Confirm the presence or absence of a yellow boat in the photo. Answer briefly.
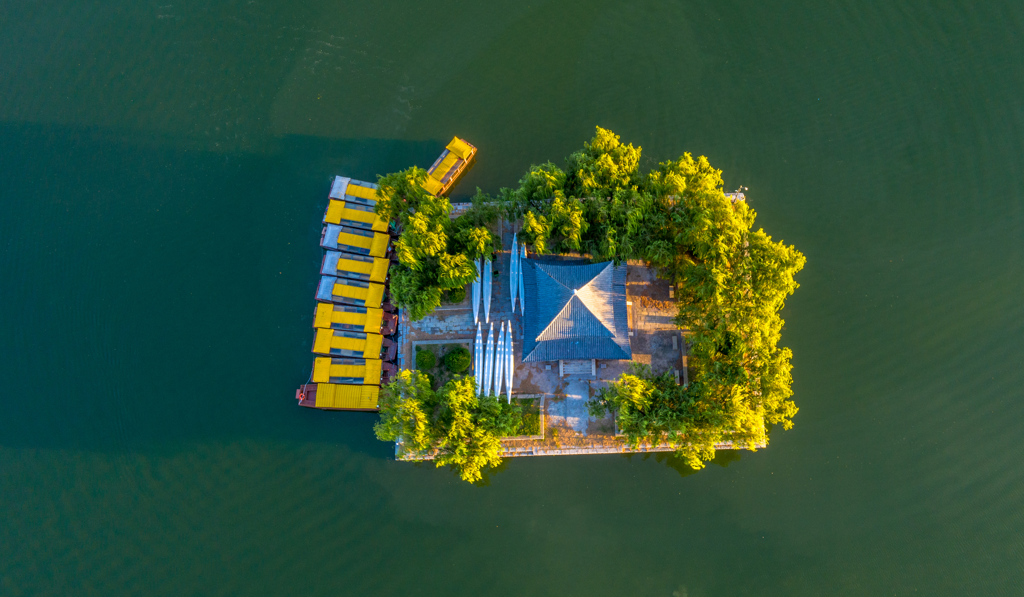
Yes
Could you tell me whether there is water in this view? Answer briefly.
Yes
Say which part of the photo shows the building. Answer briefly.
center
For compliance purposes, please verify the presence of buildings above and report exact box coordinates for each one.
[522,256,637,376]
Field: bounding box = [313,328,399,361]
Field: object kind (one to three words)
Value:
boat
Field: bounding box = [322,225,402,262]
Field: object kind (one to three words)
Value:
boat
